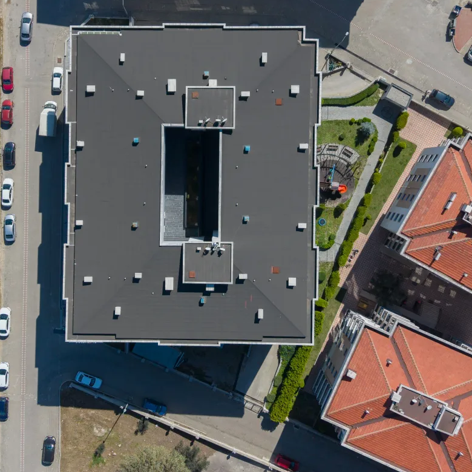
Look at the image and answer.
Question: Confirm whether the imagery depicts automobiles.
Yes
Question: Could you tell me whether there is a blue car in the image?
Yes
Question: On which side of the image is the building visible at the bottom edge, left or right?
right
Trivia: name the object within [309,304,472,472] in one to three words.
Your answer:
building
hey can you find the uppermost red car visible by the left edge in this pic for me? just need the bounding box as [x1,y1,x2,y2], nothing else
[1,67,14,91]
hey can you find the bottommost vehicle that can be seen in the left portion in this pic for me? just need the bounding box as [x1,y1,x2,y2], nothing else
[41,436,56,465]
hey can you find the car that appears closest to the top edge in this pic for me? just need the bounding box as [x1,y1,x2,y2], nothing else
[19,12,34,42]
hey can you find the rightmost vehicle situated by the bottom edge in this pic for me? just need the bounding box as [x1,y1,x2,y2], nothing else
[272,454,297,471]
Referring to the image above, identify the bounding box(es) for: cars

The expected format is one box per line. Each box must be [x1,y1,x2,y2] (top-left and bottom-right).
[2,179,15,206]
[272,454,297,471]
[424,87,454,109]
[0,396,10,421]
[41,436,56,465]
[3,142,16,167]
[19,12,34,42]
[0,362,10,389]
[75,371,102,388]
[1,100,14,124]
[3,214,17,242]
[51,67,64,93]
[1,67,14,91]
[0,307,11,337]
[143,399,167,414]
